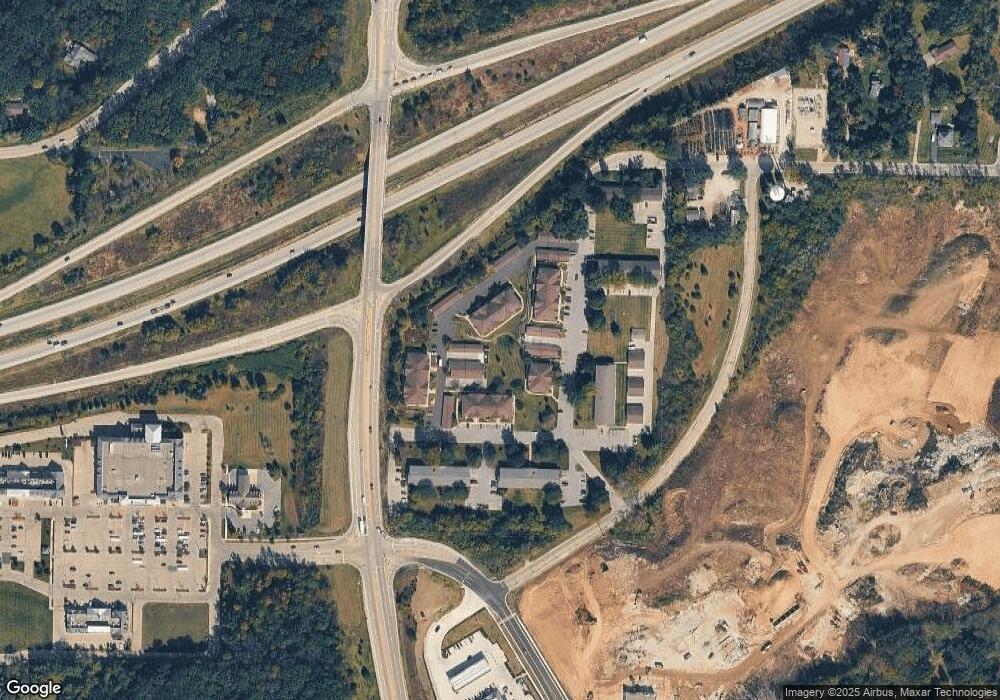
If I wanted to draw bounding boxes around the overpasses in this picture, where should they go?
[363,129,389,263]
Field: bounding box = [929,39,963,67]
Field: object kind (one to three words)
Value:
house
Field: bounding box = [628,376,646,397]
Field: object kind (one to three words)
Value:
building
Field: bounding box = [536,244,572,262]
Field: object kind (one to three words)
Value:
building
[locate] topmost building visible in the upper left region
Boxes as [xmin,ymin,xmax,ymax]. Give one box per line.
[67,42,94,64]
